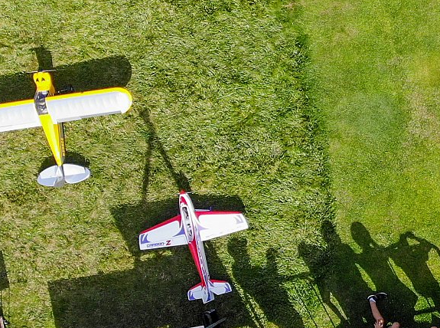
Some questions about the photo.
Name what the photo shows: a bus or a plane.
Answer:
plane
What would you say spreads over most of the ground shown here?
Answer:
grass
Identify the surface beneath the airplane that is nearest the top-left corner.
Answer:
grass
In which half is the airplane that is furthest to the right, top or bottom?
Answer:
bottom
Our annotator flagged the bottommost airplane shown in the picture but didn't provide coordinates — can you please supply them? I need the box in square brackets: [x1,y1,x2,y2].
[140,190,248,305]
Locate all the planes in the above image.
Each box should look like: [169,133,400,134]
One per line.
[140,190,248,305]
[0,69,134,189]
